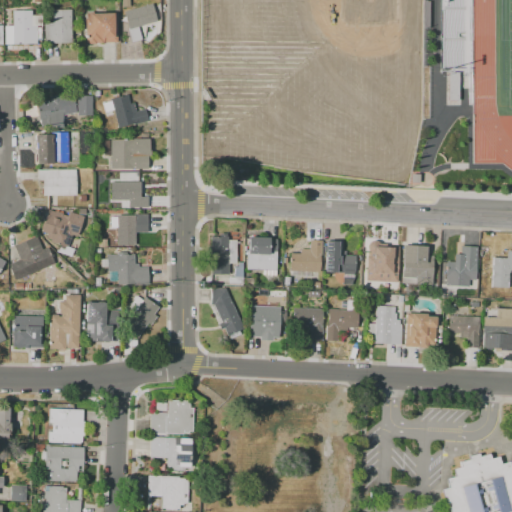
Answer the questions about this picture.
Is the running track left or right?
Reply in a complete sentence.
The running track is on the right side of the image.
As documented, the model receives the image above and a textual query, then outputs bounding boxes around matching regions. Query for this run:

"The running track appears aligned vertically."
[473,0,512,170]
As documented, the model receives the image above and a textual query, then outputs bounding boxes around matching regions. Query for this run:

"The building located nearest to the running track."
[450,72,462,100]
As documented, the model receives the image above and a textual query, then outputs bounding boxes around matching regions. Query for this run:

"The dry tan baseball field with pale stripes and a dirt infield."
[204,0,422,184]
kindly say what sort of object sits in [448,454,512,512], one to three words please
building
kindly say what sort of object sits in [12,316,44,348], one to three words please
house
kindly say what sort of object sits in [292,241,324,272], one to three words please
house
